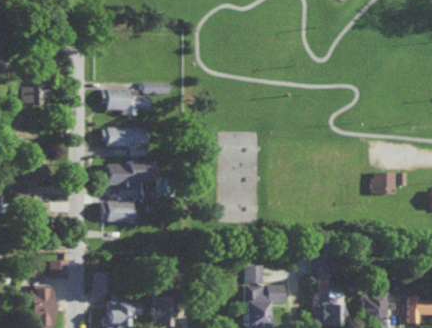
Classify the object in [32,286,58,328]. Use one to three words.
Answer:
house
